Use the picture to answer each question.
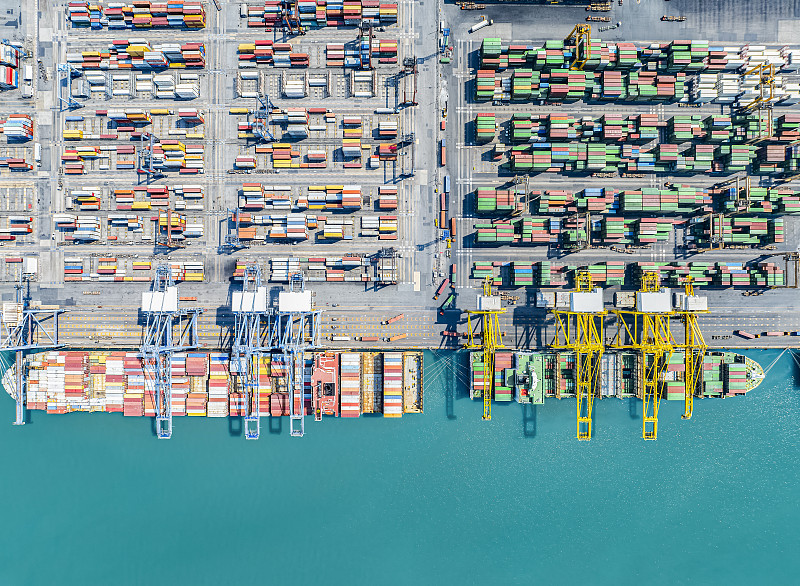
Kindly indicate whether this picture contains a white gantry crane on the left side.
Yes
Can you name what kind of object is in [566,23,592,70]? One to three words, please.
container crane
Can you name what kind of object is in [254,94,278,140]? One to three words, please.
container crane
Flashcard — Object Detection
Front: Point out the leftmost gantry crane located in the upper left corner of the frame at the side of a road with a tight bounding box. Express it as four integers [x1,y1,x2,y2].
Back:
[55,59,89,106]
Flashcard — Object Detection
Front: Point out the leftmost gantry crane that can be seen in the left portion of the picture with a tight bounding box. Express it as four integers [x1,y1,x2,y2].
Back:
[0,271,67,426]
